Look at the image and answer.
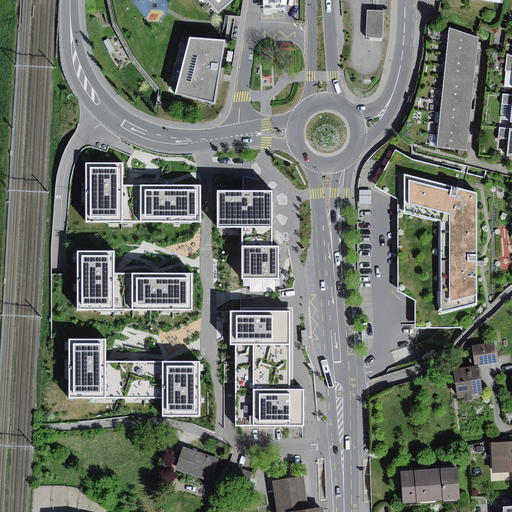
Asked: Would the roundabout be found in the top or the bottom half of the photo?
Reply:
top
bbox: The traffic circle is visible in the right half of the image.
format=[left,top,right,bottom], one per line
[288,93,367,172]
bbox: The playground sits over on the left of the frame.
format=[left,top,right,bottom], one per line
[135,0,169,22]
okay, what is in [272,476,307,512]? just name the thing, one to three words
house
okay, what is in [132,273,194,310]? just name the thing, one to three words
building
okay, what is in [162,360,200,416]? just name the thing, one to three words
building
